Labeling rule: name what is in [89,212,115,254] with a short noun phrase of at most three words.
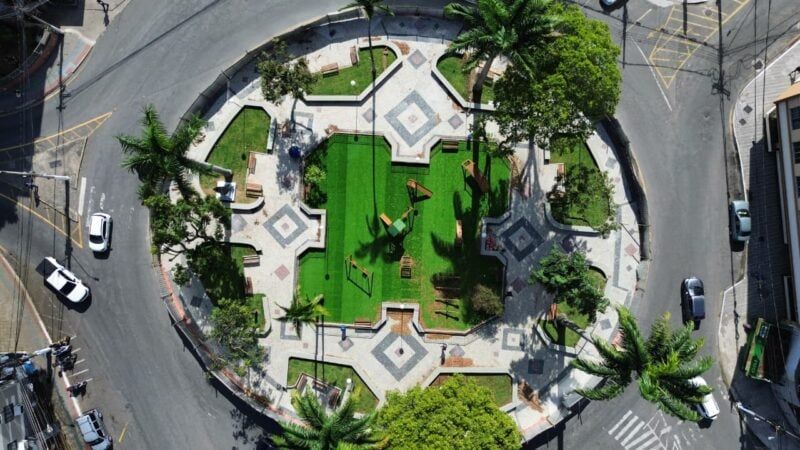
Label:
car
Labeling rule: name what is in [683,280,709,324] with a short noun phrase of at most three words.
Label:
car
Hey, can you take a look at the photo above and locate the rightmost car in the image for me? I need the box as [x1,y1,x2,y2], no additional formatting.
[726,200,752,242]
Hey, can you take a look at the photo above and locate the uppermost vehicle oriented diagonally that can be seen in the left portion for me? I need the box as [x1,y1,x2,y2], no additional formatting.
[41,257,96,304]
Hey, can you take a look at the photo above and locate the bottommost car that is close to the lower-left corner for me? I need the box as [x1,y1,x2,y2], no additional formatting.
[78,409,115,450]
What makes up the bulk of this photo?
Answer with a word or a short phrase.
paved ground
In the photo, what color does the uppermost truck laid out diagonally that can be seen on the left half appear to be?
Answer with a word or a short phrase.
white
